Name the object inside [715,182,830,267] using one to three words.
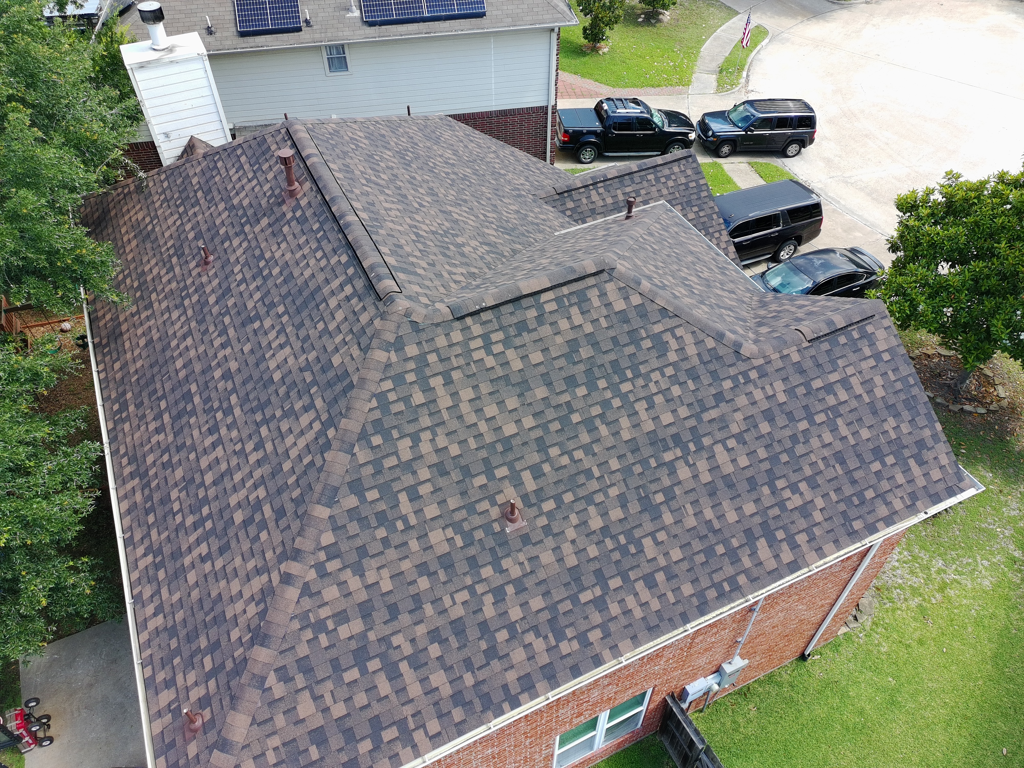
car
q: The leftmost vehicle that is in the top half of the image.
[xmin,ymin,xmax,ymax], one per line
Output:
[554,92,701,164]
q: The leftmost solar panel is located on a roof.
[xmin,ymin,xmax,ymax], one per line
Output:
[236,0,303,38]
